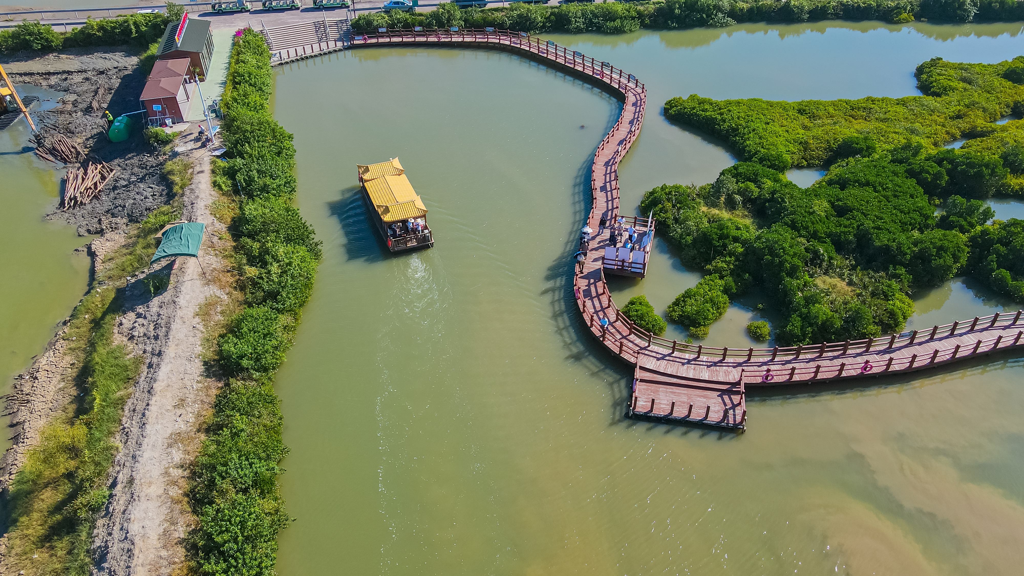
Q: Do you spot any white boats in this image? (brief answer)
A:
No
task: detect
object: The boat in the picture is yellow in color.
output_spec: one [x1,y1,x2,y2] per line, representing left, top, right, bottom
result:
[355,155,434,253]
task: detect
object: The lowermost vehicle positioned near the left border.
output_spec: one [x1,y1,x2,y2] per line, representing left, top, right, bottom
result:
[0,59,49,147]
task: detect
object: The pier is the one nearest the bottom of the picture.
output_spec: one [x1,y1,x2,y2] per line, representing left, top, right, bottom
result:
[627,354,748,437]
